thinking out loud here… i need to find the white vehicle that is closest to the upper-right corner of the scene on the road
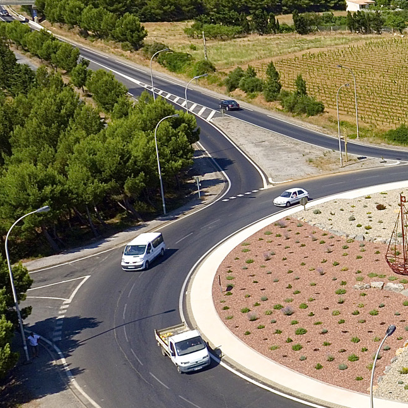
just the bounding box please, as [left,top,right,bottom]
[276,187,313,207]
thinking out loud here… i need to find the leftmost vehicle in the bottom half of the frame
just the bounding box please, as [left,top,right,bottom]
[121,233,166,270]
